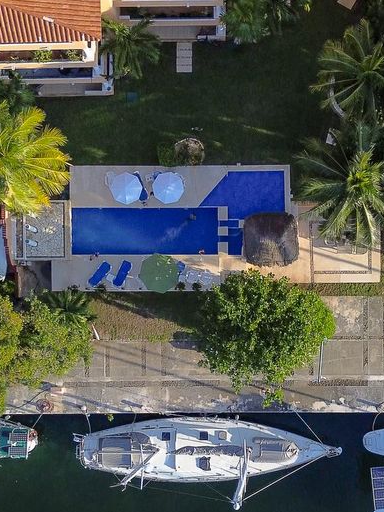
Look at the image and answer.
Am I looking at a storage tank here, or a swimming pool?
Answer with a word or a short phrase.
swimming pool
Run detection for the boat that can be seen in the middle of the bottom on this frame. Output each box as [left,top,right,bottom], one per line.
[74,414,343,512]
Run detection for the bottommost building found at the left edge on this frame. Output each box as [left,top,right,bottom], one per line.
[12,202,74,261]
